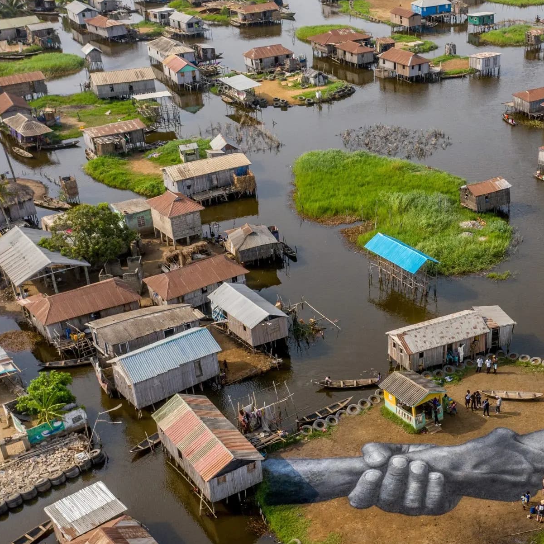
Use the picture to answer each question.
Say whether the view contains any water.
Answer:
Yes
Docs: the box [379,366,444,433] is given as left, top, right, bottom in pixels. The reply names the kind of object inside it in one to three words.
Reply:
building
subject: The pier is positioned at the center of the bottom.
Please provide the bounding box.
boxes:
[245,428,286,457]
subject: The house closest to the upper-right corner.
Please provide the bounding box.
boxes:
[523,28,544,50]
